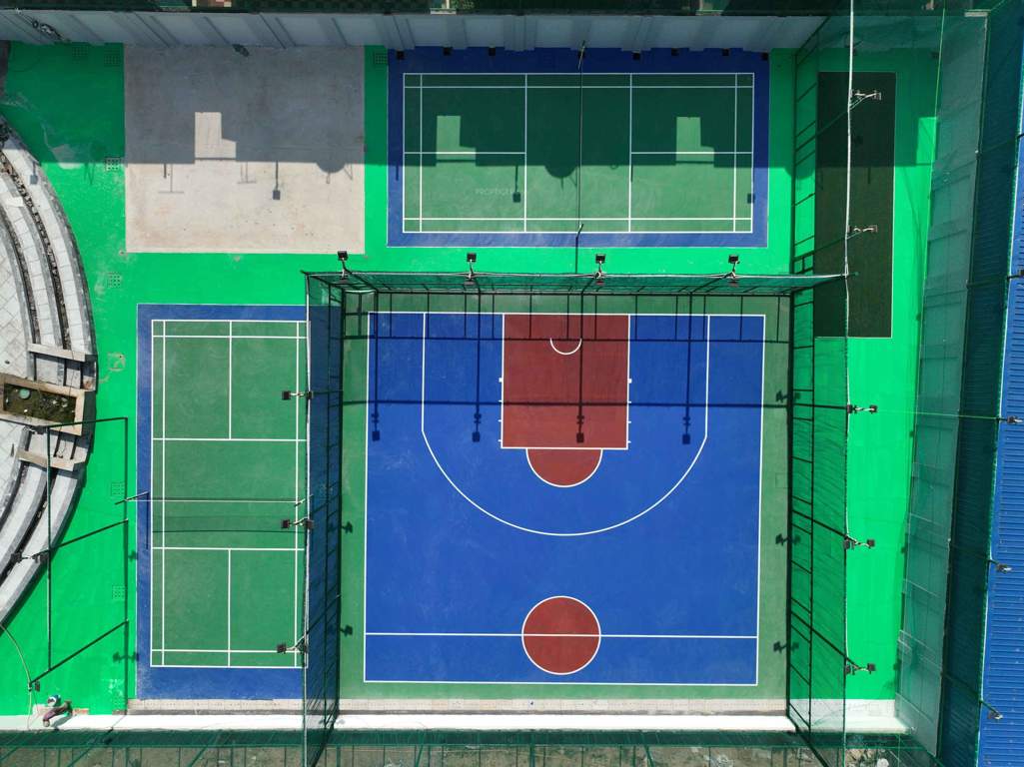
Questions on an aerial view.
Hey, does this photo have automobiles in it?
No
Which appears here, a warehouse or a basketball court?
basketball court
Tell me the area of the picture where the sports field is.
top right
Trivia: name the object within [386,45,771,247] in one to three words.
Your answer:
sports court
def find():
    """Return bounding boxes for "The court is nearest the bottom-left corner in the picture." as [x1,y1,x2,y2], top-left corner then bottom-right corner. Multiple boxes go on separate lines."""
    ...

[135,303,340,699]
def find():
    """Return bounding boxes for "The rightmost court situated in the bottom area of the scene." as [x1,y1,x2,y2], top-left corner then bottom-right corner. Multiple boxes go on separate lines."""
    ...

[339,293,790,699]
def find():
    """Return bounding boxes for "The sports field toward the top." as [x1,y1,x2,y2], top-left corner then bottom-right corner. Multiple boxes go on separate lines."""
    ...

[815,70,898,339]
